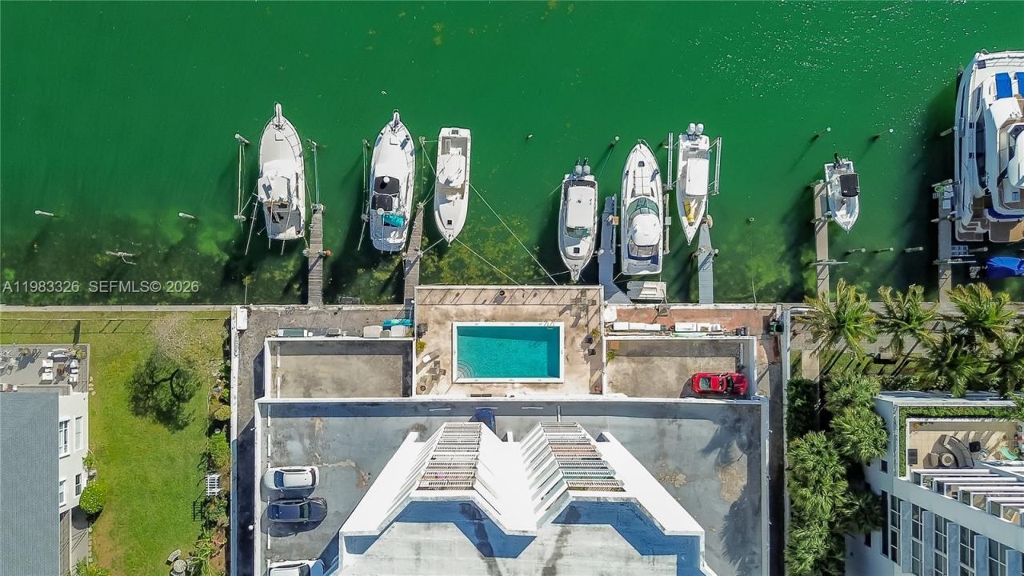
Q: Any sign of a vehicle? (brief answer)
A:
Yes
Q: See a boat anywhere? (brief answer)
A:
Yes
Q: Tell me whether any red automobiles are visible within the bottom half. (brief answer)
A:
Yes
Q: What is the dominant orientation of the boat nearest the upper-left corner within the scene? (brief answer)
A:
vertically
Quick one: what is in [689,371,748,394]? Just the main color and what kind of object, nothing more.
red car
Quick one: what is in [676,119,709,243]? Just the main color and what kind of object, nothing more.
white boat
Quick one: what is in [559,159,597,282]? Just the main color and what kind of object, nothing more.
white boat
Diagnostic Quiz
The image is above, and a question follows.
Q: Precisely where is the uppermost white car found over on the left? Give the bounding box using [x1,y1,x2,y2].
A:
[263,465,320,493]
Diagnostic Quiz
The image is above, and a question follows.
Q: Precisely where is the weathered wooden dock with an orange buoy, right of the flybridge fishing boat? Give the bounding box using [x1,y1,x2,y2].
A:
[308,203,330,306]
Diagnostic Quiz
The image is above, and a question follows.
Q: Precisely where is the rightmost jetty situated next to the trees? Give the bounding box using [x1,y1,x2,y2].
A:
[918,184,952,302]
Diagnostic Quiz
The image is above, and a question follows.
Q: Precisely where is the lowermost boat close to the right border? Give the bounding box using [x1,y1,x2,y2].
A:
[964,257,1024,280]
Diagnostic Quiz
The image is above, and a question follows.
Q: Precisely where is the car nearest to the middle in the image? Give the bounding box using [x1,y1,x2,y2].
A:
[473,403,499,436]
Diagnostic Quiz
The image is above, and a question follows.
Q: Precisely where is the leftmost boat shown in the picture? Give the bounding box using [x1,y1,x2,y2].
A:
[244,102,305,255]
